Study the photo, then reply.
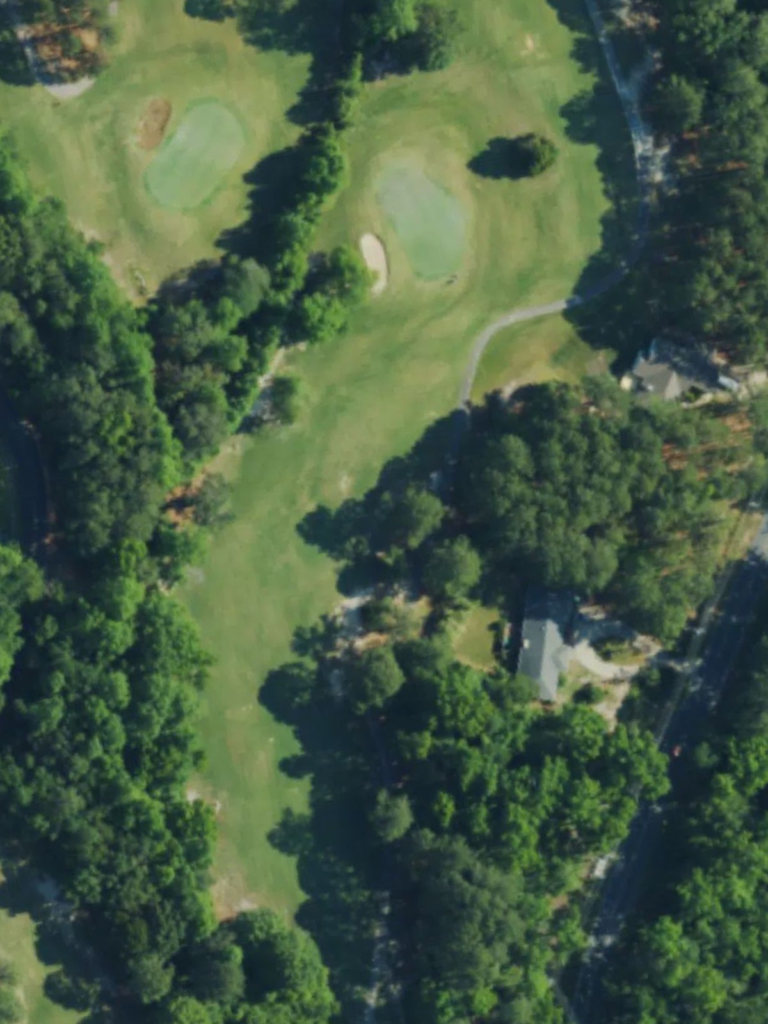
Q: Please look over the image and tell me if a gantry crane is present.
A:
No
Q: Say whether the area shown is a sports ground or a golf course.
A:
golf course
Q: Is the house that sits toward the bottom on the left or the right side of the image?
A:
right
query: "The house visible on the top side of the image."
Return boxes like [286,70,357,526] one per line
[634,340,720,401]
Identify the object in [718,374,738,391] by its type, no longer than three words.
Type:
vehicle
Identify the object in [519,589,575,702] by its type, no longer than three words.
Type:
house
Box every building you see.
[634,340,720,401]
[519,589,575,702]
